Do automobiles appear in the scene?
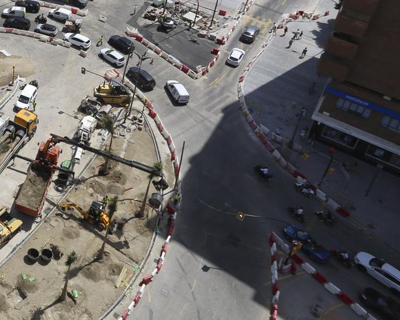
Yes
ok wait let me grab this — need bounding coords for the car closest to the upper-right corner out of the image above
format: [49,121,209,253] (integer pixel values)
[242,24,261,41]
